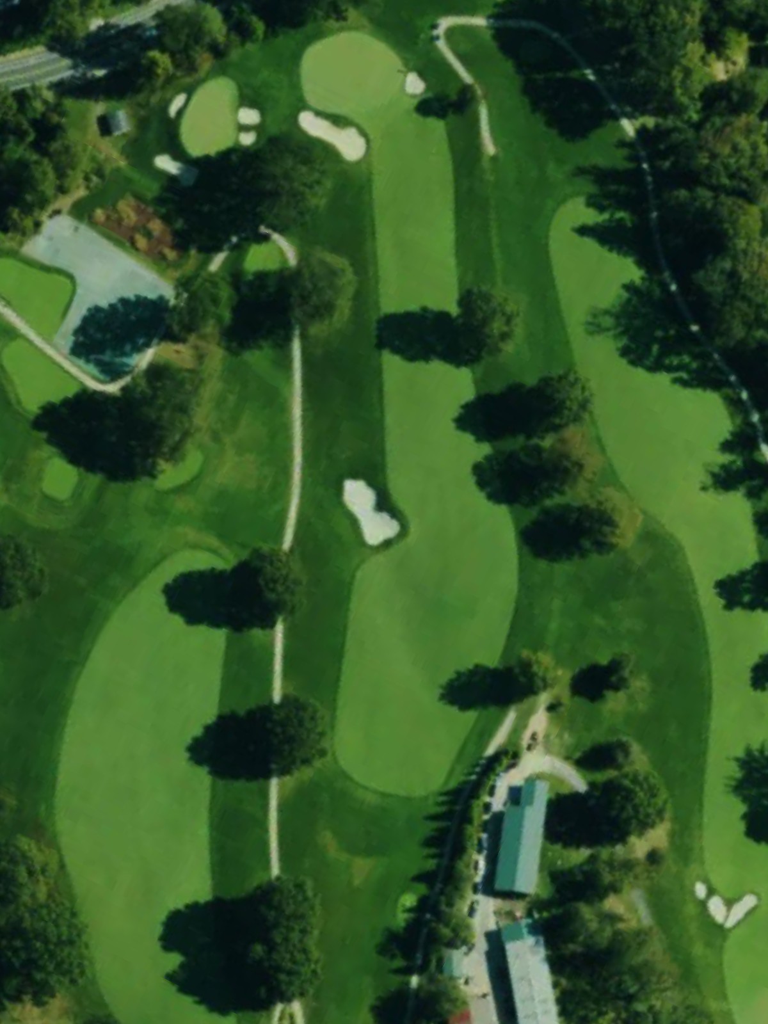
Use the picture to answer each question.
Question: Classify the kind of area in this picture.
golf course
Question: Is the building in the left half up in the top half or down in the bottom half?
top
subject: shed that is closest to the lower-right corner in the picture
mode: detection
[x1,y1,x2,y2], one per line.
[504,920,558,1024]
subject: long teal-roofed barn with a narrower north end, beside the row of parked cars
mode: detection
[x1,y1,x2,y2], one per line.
[494,779,549,895]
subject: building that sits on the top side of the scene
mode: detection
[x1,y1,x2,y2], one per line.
[107,109,128,135]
